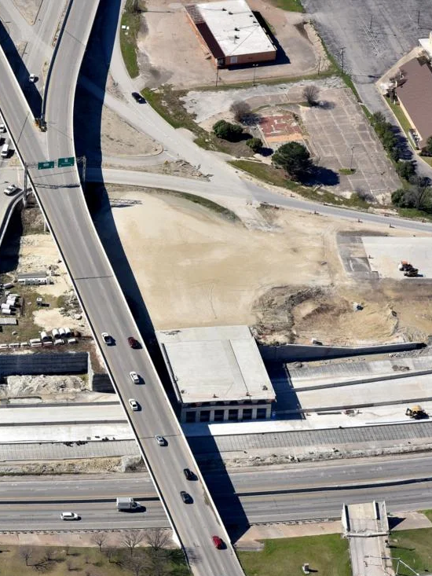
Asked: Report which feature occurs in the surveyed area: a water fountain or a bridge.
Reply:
bridge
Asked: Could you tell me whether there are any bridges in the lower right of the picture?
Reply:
Yes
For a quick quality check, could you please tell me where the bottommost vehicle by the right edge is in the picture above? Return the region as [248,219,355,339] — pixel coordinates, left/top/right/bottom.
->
[401,404,425,417]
